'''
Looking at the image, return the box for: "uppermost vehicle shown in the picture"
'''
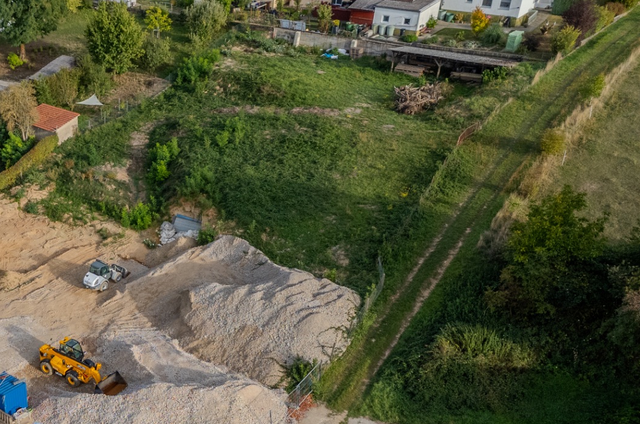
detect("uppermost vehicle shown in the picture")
[79,254,134,293]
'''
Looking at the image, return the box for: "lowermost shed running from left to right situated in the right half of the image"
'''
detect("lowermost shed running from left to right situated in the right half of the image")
[384,46,518,80]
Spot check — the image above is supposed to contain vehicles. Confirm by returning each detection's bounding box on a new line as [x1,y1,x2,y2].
[34,336,123,395]
[79,254,134,293]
